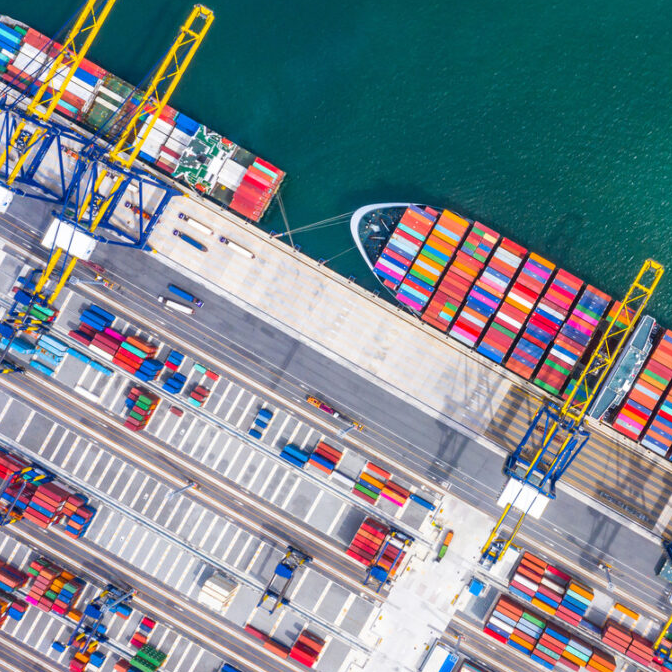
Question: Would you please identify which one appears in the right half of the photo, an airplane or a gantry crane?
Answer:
gantry crane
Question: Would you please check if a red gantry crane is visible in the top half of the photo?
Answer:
No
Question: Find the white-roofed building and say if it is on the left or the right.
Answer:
right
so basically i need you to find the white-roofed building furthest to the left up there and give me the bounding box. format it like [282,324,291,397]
[421,641,459,672]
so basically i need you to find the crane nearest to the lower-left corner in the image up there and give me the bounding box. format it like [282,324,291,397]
[60,584,133,656]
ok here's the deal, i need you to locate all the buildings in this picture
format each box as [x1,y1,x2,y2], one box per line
[463,573,489,596]
[421,641,459,672]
